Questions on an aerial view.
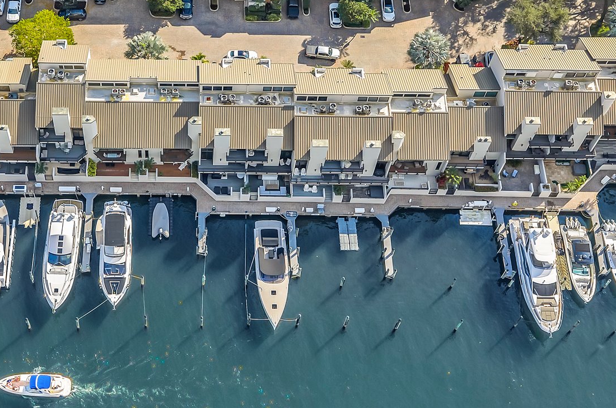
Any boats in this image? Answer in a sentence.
Yes, you can see a boat in this photo.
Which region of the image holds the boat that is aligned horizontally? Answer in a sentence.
The boat that is aligned horizontally is in the bottom left part of the image.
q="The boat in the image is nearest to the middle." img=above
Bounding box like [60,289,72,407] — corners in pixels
[253,219,290,332]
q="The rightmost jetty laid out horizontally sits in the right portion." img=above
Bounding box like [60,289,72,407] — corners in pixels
[459,211,493,226]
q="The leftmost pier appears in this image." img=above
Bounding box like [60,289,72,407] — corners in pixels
[19,198,40,226]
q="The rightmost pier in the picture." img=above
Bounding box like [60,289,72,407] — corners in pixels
[582,212,613,278]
